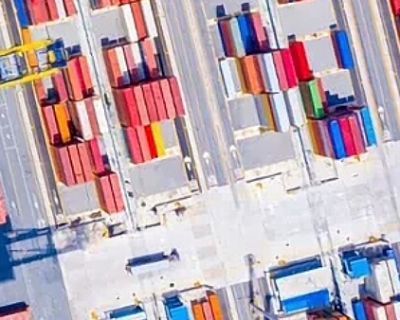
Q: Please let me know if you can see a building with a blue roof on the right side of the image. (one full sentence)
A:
Yes, on the right side of the image there is a building with a blue roof.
